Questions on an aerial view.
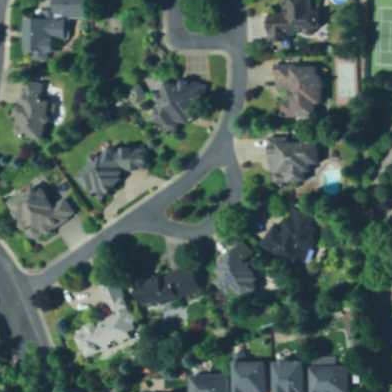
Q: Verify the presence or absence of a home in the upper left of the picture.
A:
Yes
